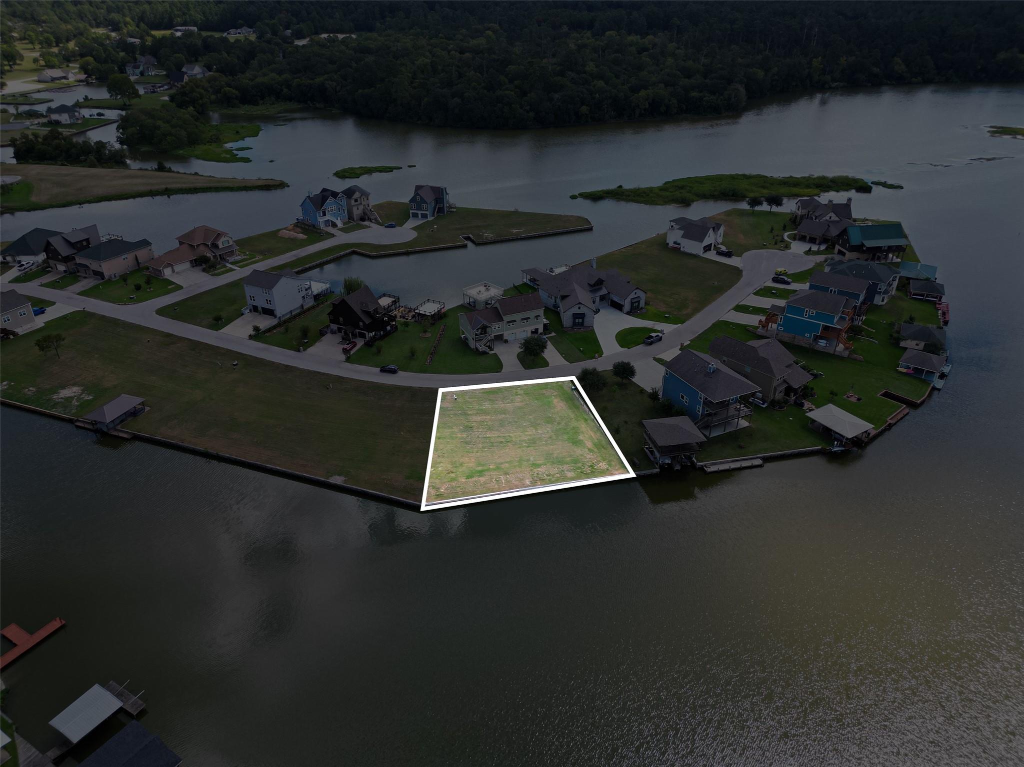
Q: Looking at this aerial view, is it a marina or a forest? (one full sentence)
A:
It's a marina.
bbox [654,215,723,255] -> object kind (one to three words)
house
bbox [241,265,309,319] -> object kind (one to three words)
house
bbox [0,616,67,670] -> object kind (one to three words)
pier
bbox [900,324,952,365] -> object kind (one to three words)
building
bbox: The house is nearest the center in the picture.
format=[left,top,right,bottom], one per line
[457,289,549,358]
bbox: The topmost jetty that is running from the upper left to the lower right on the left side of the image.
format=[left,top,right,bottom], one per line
[106,679,148,719]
